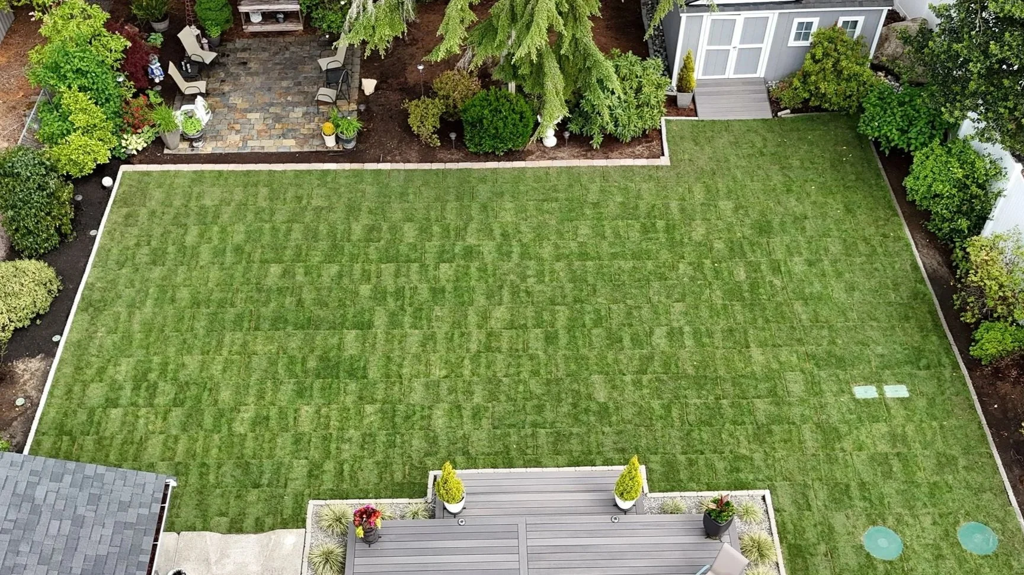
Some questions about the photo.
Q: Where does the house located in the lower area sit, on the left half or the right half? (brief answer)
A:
left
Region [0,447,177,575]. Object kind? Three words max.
house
